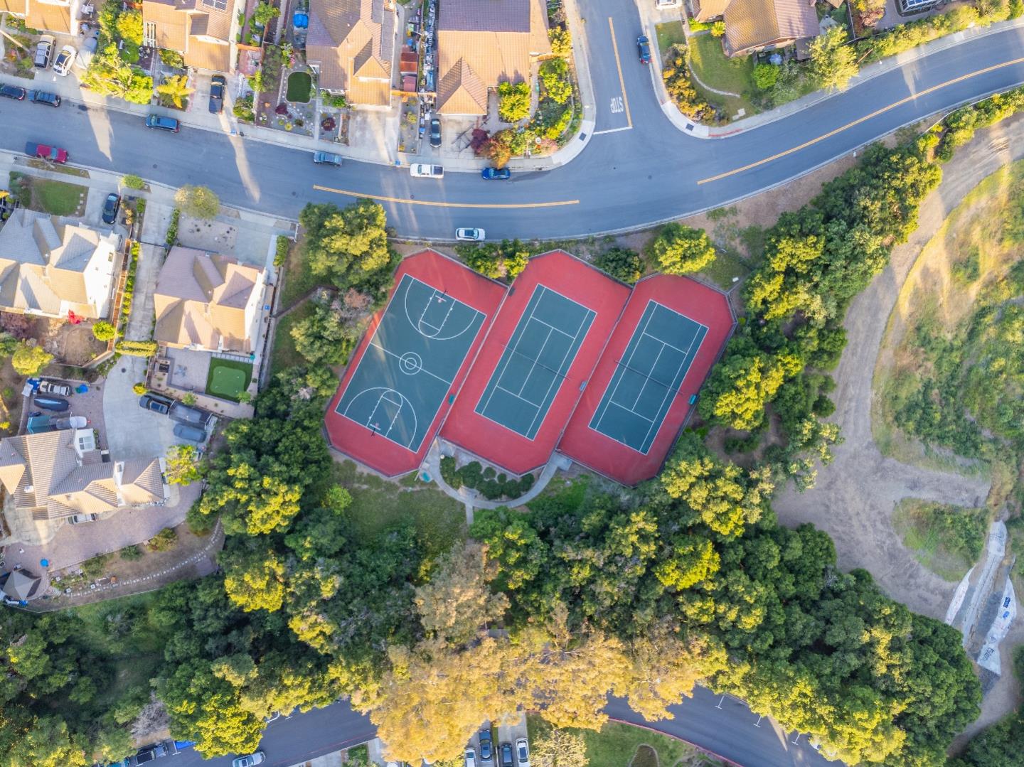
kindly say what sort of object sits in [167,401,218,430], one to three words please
trailer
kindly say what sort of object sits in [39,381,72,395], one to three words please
car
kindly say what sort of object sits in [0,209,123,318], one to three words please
house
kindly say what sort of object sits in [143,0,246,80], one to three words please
house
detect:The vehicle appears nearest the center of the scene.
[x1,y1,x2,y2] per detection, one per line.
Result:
[455,227,485,241]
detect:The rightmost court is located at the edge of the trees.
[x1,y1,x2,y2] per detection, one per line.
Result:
[557,273,736,486]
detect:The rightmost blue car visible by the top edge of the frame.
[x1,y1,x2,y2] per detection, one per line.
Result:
[636,36,651,65]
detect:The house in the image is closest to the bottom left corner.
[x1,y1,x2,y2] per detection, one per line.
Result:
[0,426,175,520]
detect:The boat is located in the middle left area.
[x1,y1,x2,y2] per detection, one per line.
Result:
[32,396,71,413]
